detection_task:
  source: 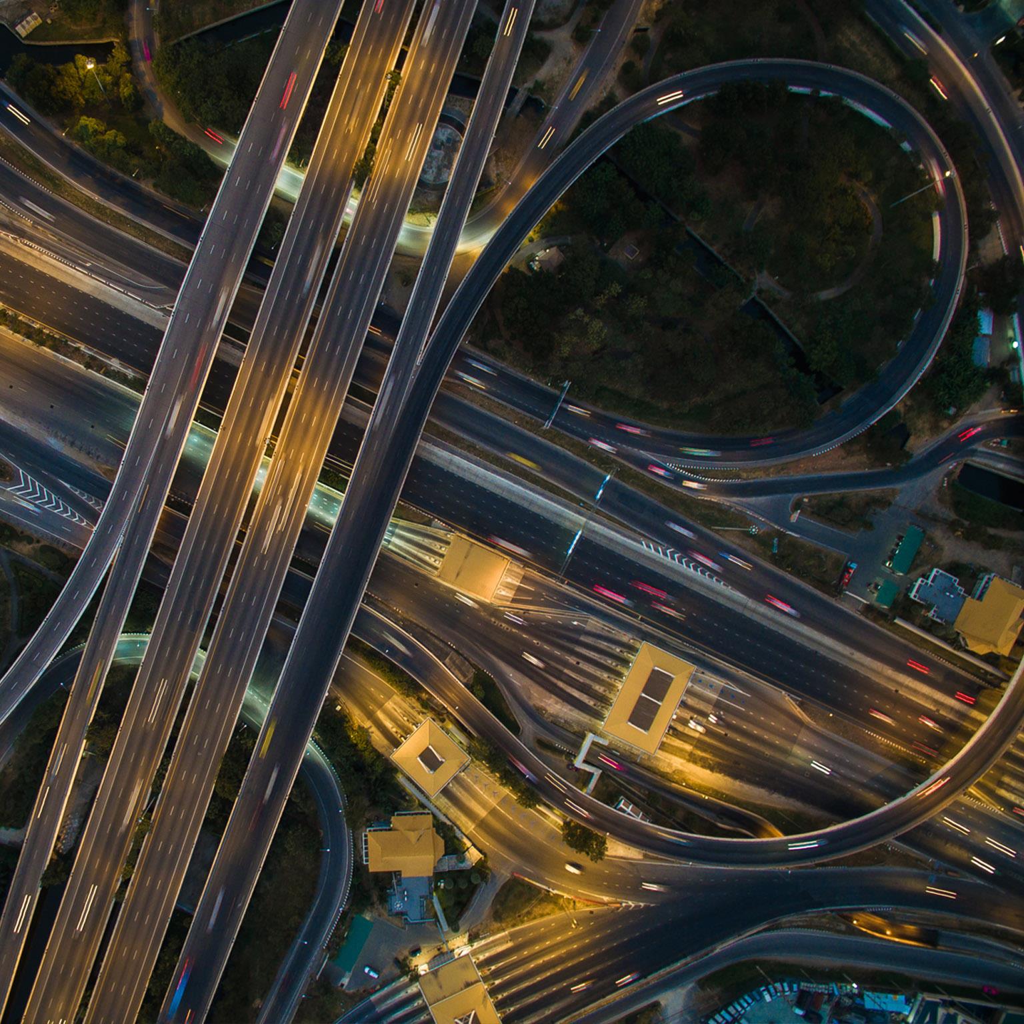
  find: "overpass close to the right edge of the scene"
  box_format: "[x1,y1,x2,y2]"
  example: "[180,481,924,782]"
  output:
[852,0,1024,399]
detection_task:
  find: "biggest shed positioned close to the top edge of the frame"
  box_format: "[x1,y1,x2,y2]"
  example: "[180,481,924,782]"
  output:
[15,11,44,40]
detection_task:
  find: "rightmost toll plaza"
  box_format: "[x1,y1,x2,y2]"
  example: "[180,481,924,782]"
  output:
[558,625,709,755]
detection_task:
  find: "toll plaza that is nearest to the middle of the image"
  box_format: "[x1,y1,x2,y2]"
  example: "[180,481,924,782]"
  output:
[411,530,523,603]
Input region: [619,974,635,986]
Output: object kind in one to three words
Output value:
vehicle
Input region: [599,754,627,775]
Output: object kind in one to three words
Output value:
truck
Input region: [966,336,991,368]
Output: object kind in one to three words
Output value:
shed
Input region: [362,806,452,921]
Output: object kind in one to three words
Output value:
building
